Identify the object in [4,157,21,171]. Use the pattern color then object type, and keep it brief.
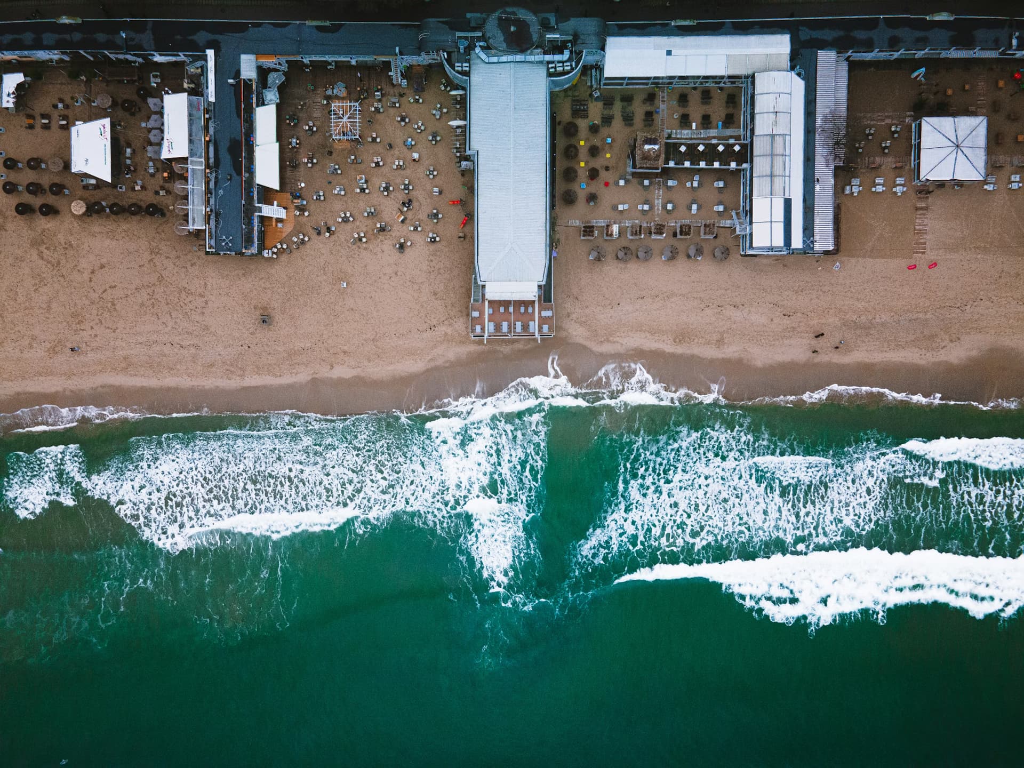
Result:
black umbrella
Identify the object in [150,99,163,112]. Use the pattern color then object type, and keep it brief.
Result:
gray umbrella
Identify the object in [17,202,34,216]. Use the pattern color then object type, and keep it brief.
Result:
black umbrella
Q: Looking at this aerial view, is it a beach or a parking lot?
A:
beach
